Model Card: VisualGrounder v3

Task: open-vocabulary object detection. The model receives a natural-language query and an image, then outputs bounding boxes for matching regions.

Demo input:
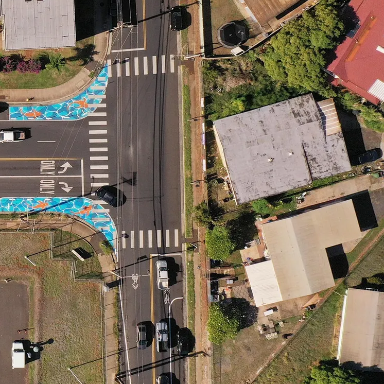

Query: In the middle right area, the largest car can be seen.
[353,147,382,164]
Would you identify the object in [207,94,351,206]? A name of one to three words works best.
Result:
house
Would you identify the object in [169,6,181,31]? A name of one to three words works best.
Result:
vehicle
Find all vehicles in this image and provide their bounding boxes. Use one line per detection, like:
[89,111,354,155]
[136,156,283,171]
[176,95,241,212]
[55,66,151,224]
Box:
[353,147,382,164]
[154,320,169,352]
[155,374,169,384]
[176,325,189,355]
[12,341,26,371]
[154,259,169,290]
[0,130,24,142]
[169,6,181,31]
[93,185,118,206]
[135,322,148,348]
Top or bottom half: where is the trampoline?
top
